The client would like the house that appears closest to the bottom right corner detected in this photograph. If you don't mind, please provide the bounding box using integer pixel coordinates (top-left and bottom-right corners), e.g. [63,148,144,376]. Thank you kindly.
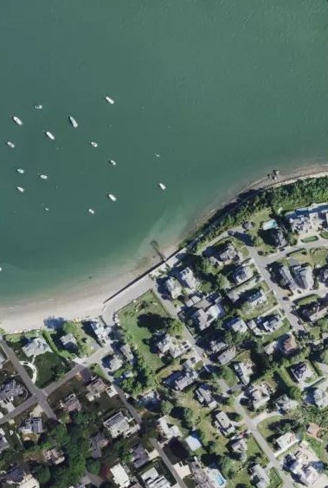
[303,466,328,488]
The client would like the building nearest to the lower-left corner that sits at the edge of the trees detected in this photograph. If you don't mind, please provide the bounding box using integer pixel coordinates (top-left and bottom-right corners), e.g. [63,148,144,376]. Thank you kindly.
[1,464,25,487]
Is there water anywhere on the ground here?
Yes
